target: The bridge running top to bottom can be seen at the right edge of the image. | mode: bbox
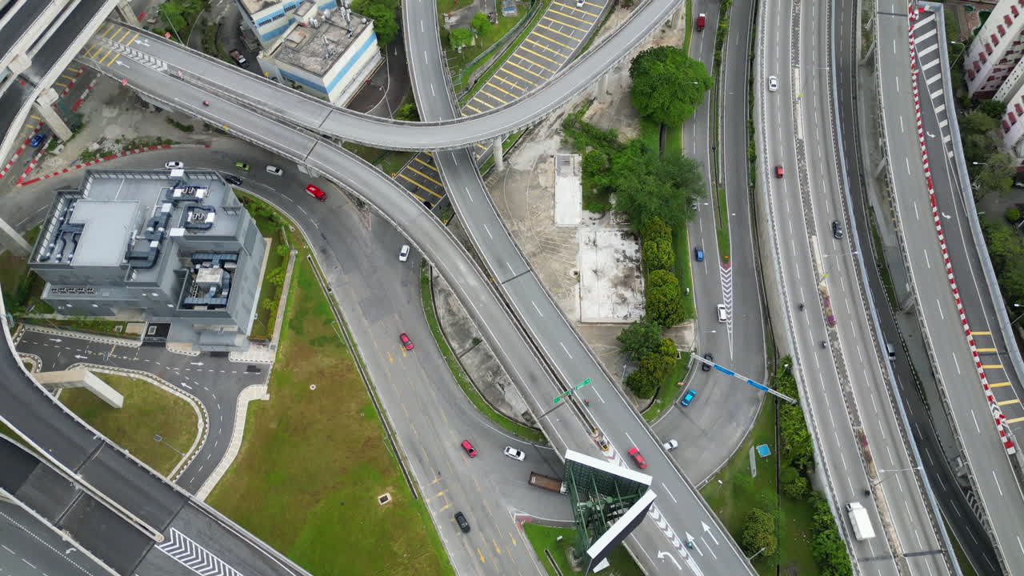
[861,0,1024,576]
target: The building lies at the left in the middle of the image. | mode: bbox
[25,167,270,356]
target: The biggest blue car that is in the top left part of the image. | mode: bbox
[29,133,46,147]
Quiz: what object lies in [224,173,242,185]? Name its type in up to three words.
vehicle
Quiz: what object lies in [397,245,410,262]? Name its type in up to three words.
vehicle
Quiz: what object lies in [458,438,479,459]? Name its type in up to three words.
car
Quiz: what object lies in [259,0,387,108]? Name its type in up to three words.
building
